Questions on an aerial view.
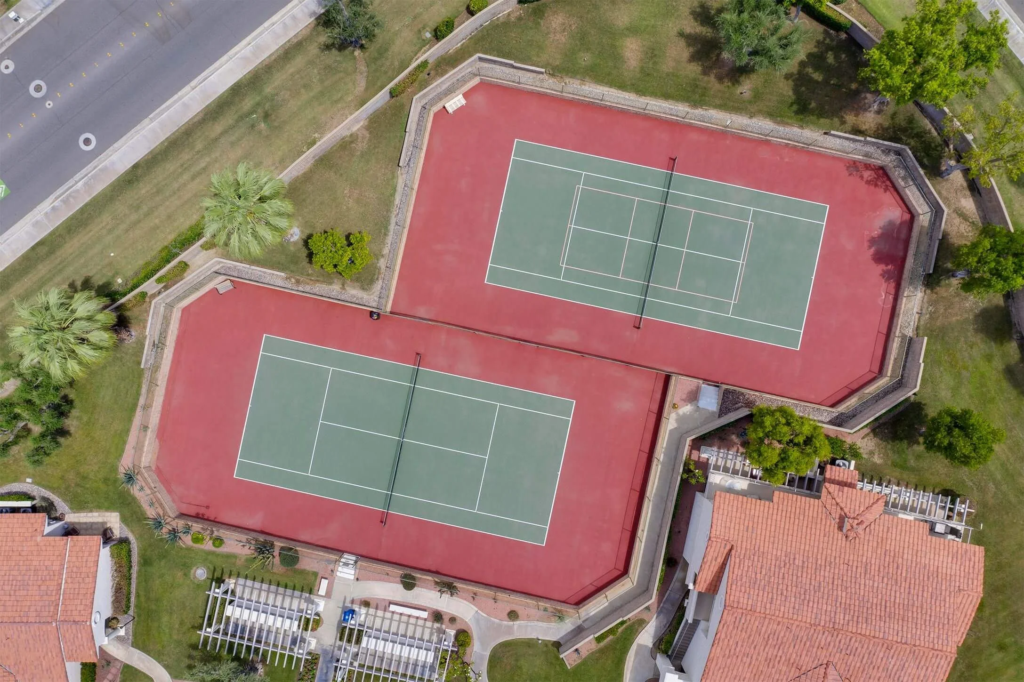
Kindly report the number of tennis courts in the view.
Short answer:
two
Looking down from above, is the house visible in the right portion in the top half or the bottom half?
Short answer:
bottom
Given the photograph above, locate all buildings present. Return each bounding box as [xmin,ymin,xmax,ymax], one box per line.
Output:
[0,508,118,682]
[648,460,985,682]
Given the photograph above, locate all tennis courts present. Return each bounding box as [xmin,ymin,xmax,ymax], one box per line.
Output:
[390,82,914,407]
[156,280,670,605]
